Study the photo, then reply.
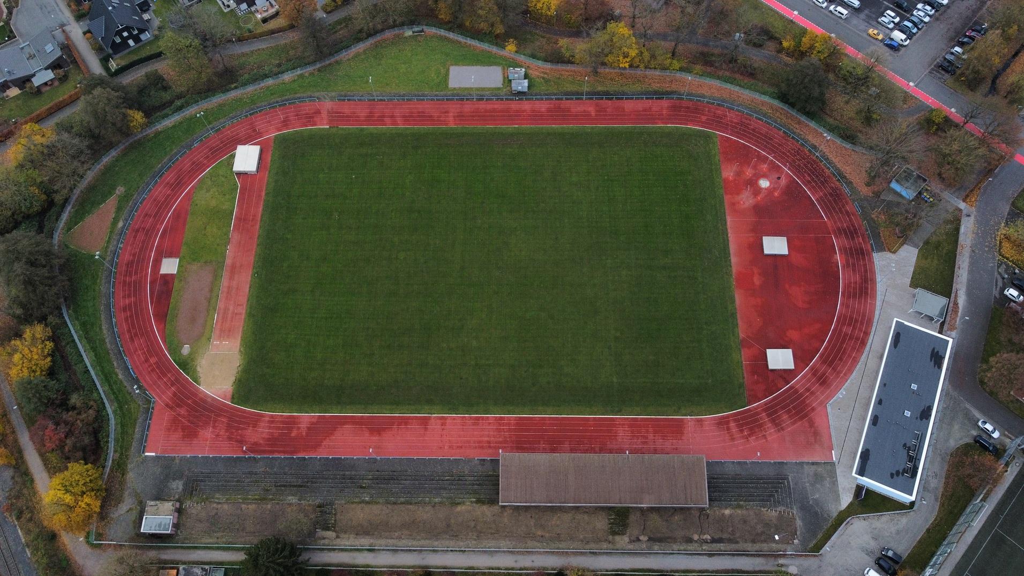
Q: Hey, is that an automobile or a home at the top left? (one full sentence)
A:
Looking at the top left, you will find a home.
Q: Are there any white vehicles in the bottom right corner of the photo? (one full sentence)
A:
Yes, a white vehicle shows up in the bottom right corner of the photo.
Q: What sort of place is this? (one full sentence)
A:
The picture captures a sports ground.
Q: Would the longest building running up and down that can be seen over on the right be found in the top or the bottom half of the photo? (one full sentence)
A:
The bottom half of the photo is where the longest building running up and down that can be seen over on the right is.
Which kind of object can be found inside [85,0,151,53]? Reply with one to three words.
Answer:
house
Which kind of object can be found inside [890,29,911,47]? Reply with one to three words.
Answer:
vehicle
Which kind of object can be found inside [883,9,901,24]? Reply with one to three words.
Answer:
car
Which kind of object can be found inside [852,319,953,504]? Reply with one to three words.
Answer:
building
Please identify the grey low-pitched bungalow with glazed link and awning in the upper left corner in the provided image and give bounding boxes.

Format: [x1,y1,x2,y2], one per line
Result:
[0,30,68,99]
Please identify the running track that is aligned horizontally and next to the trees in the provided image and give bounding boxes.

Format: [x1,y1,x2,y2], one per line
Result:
[114,100,876,460]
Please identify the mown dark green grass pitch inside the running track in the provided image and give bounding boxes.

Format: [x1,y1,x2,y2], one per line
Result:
[232,126,747,416]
